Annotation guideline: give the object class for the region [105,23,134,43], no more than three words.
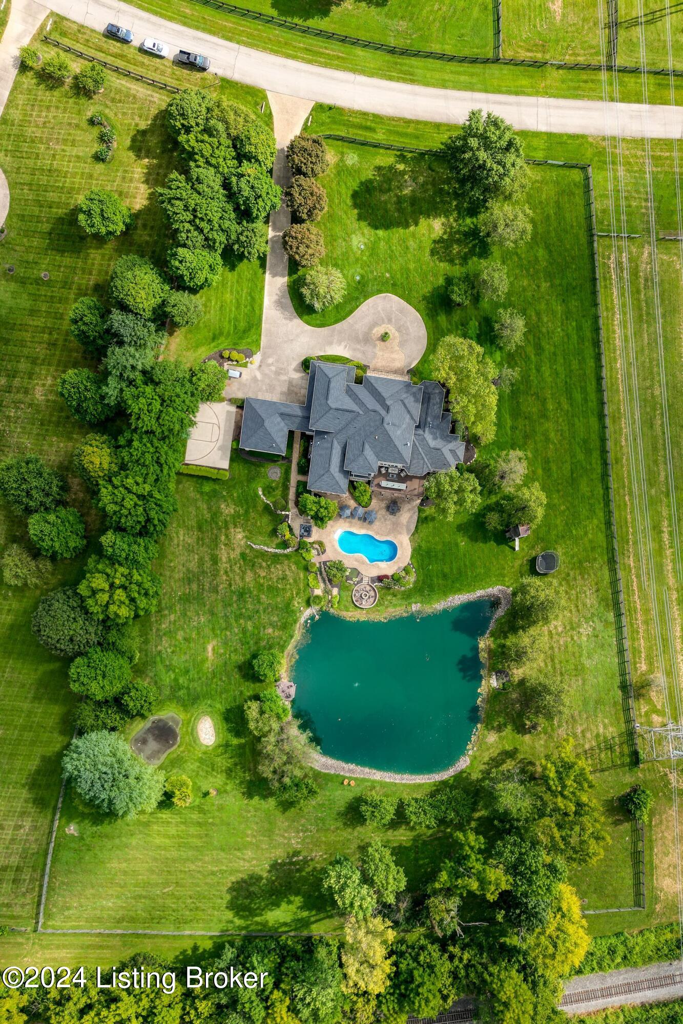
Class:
car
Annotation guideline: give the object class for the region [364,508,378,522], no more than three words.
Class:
umbrella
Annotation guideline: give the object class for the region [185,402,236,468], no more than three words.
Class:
basketball court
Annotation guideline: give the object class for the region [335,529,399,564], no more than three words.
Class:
swimming pool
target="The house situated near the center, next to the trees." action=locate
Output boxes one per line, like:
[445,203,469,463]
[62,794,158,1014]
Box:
[239,360,465,500]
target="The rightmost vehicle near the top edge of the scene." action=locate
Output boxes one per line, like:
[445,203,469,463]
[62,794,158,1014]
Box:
[176,50,210,70]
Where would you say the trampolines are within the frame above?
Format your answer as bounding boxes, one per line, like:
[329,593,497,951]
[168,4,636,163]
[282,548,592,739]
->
[535,551,559,575]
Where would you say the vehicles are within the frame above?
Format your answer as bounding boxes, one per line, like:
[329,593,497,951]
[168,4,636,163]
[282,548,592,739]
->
[105,23,134,43]
[176,50,210,70]
[228,369,243,378]
[140,39,169,58]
